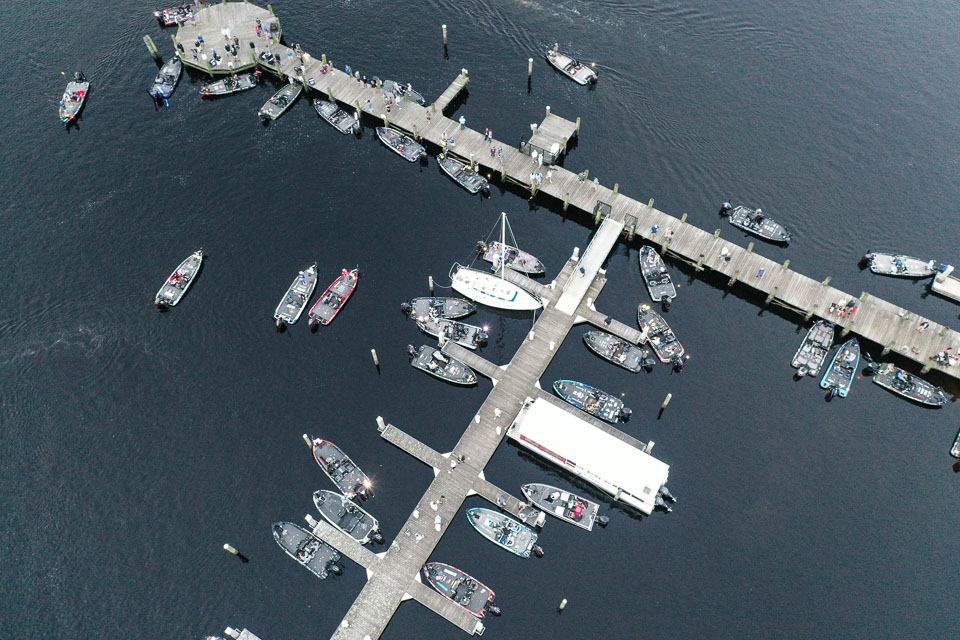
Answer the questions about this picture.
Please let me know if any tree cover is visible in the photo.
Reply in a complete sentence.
No, tree cover can't be seen anywhere here.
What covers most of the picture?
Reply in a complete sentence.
For the most part, this view shows water.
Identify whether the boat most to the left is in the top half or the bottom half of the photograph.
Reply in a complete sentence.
Seen from above, the boat most to the left lies in the top half of the view.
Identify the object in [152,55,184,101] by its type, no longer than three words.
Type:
boat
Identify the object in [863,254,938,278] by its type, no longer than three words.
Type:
boat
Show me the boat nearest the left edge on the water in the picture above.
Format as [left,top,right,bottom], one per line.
[61,72,89,128]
